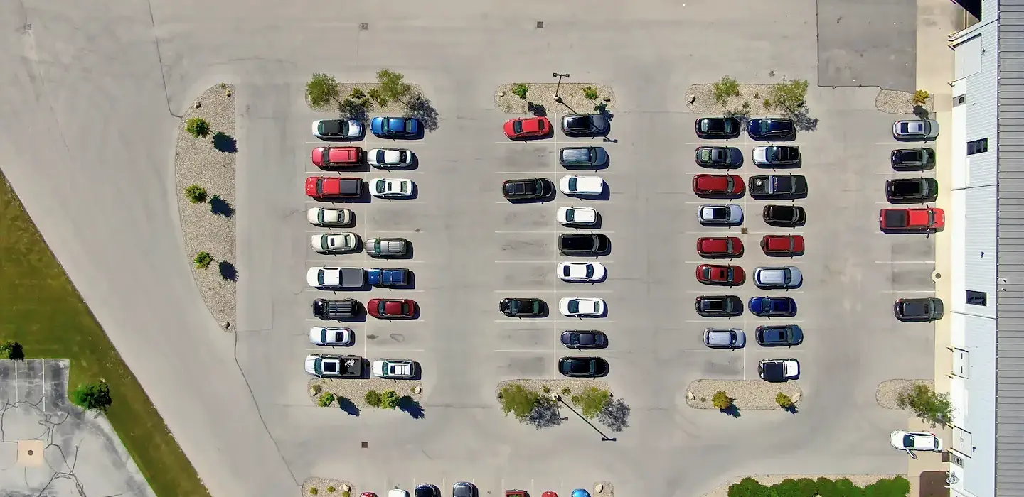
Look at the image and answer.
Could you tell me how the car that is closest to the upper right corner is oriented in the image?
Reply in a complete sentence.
The car that is closest to the upper right corner runs from left to right in the image.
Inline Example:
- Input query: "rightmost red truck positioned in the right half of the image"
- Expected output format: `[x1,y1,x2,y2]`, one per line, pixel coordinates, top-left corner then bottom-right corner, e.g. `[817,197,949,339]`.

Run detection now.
[878,206,946,231]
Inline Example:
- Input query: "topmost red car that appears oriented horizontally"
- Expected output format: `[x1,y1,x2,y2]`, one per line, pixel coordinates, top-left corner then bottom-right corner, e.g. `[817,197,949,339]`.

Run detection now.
[504,117,550,140]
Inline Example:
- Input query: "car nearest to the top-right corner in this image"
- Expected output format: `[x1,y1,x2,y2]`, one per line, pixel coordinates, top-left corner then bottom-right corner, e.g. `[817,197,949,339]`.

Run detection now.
[891,117,940,140]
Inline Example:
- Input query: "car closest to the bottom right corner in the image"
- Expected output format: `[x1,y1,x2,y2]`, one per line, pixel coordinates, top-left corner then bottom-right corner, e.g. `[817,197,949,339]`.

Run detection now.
[888,430,943,459]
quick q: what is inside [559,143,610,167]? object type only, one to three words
car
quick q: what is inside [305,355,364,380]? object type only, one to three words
truck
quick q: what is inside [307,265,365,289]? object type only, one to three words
truck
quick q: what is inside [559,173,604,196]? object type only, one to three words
vehicle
